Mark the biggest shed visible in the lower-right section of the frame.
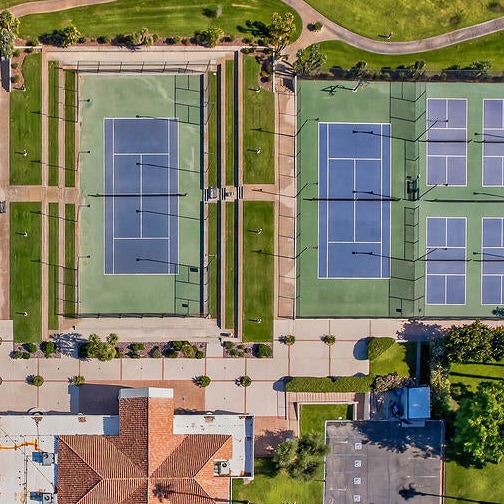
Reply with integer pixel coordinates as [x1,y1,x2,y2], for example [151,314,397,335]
[401,387,430,426]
